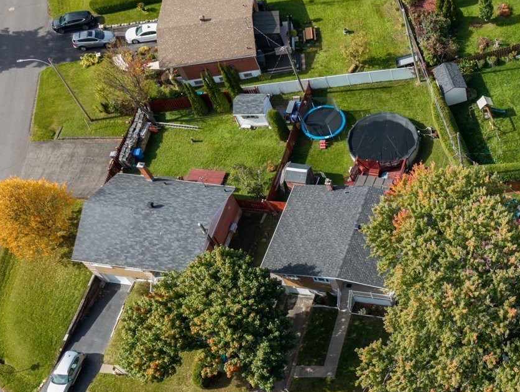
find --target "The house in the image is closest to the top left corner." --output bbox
[157,0,259,85]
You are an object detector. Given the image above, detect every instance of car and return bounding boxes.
[125,22,157,42]
[51,9,97,31]
[45,348,90,392]
[70,28,114,49]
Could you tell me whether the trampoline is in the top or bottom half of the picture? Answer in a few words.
top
